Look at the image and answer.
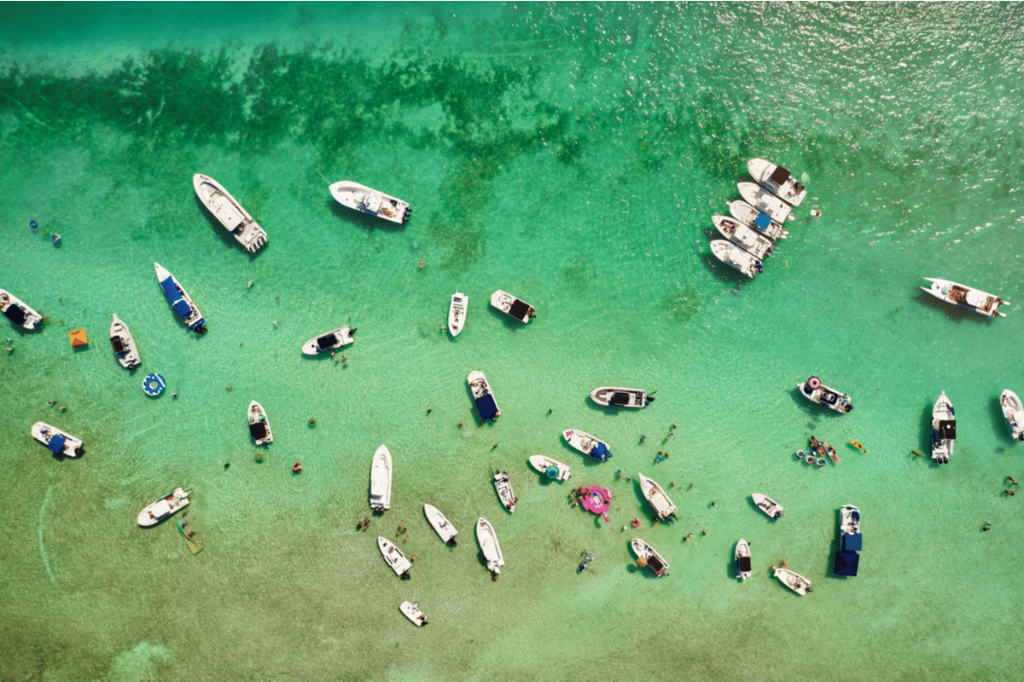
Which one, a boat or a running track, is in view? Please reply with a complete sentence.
The image shows a boat.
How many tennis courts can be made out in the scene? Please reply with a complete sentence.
No tennis courts are visible.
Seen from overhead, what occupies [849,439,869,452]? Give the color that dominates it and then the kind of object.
orange boat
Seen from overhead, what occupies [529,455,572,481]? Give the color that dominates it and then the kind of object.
white boat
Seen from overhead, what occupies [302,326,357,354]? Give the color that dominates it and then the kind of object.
white boat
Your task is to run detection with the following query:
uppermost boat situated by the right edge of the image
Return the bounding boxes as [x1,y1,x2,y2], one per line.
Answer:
[916,277,1010,318]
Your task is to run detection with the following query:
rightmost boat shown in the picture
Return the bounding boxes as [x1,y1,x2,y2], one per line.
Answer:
[996,389,1024,441]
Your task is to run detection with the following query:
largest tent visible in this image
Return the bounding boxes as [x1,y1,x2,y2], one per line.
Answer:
[827,547,859,576]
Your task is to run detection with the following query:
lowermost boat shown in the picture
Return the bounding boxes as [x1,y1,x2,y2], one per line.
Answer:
[400,601,428,626]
